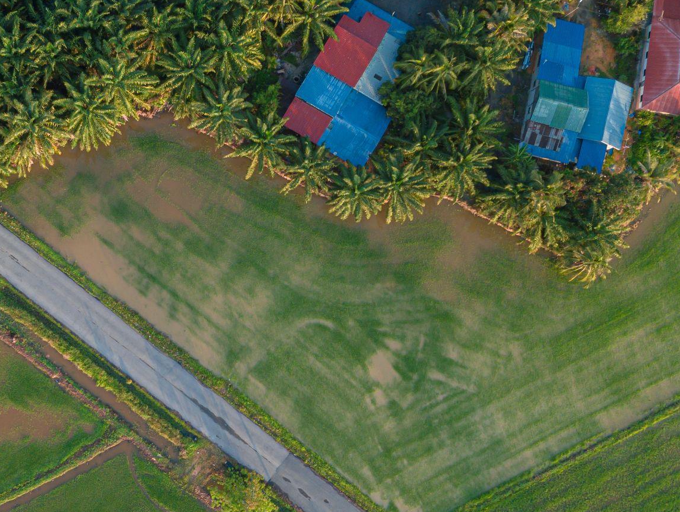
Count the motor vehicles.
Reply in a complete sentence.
I count no motor vehicles.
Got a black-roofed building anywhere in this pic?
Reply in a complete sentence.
No, I find no black-roofed building anywhere in the image.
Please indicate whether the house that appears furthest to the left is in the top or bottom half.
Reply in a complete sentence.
Seen from above, the house that appears furthest to the left lies in the top half of the view.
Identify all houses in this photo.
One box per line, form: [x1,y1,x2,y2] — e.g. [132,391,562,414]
[517,18,634,174]
[634,0,680,114]
[282,0,406,166]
